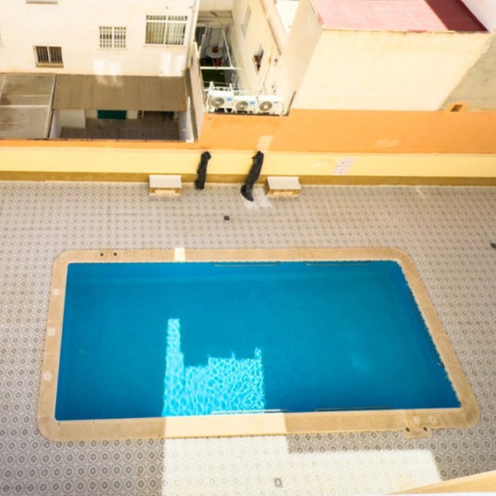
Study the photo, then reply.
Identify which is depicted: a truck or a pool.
pool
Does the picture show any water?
Yes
